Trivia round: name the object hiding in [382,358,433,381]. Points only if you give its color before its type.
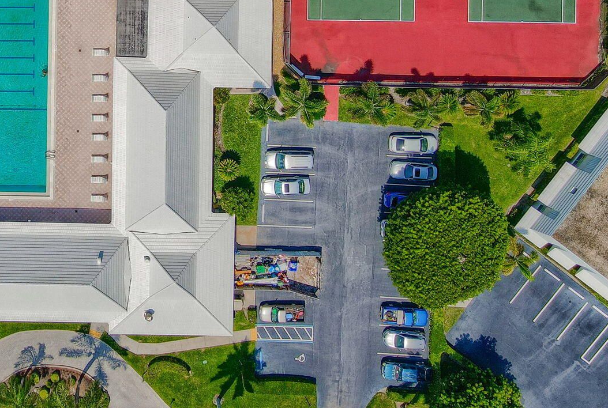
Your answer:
blue truck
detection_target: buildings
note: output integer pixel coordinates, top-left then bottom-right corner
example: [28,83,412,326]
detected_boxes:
[518,101,608,297]
[0,0,273,337]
